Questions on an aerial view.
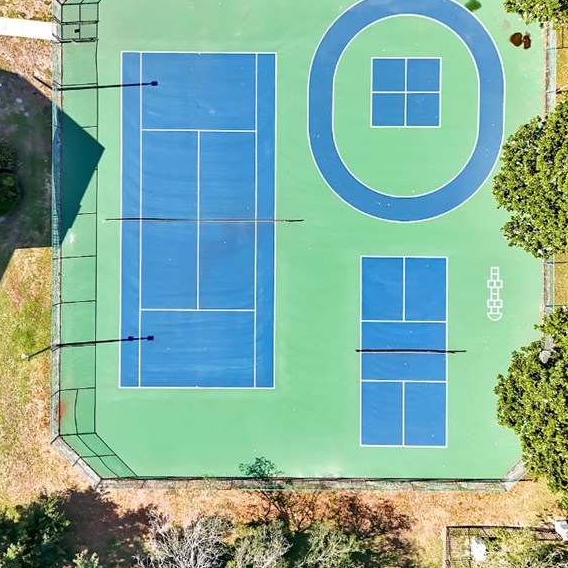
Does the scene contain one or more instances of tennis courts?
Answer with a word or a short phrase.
Yes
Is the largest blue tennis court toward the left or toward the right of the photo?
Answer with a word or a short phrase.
left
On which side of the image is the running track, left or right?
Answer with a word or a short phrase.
right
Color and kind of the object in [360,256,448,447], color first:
blue sports court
